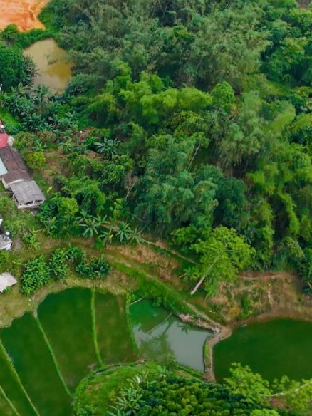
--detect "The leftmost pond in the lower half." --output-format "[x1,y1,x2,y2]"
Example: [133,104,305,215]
[128,300,208,372]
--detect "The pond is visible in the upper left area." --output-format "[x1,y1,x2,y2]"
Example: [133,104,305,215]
[22,42,72,97]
